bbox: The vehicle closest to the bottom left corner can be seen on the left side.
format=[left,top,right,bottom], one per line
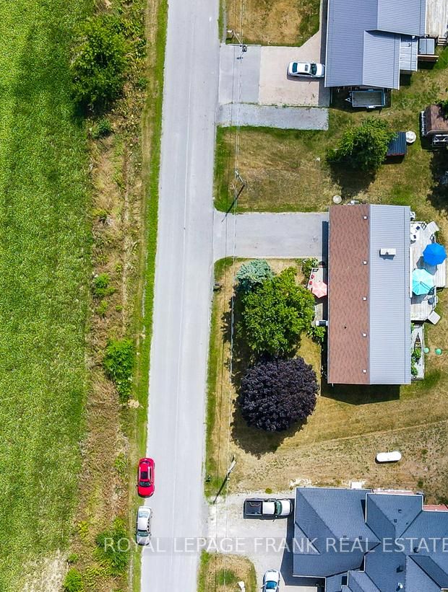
[133,506,153,545]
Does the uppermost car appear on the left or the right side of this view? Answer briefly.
right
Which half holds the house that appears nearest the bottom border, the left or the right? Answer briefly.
right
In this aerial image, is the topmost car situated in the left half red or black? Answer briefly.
red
